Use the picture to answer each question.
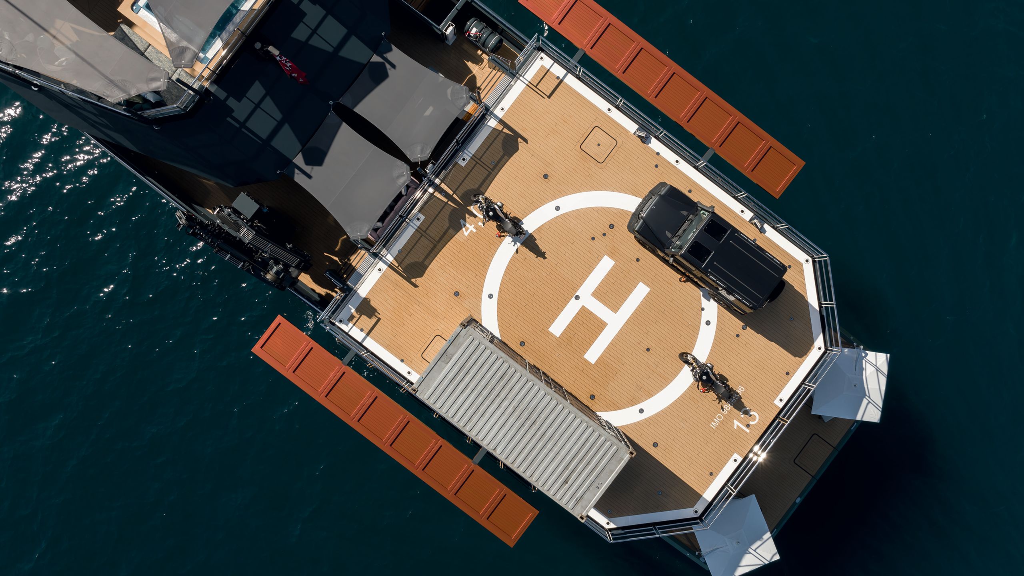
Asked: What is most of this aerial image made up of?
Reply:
water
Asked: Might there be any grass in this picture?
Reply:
No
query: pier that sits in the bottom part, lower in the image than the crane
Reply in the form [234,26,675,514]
[252,315,538,547]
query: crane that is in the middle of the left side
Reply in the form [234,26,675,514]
[174,192,316,297]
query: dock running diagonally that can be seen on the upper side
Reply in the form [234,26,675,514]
[519,0,806,200]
